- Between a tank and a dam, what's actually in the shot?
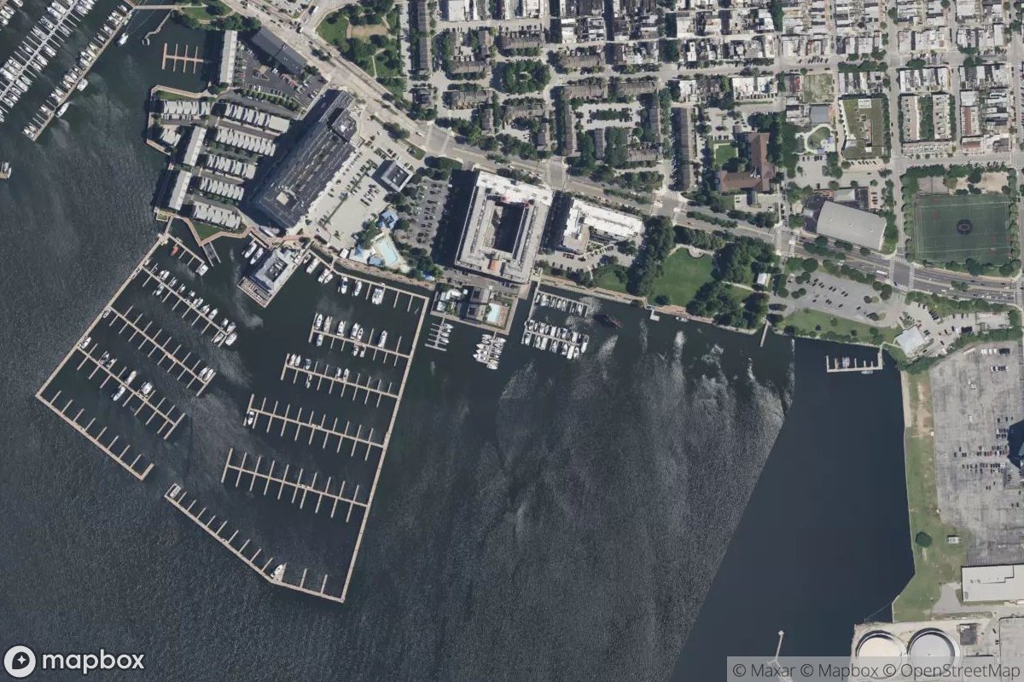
tank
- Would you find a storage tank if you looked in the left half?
No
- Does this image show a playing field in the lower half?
No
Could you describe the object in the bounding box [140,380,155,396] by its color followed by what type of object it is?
white boat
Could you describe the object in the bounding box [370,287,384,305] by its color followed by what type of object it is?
white boat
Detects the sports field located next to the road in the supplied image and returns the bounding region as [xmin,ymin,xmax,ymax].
[914,191,1011,263]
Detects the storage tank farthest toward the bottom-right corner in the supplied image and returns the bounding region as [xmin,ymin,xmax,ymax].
[907,632,956,680]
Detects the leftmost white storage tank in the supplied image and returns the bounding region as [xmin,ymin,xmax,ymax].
[858,633,905,679]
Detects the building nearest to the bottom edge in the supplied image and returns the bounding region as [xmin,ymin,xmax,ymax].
[960,625,976,646]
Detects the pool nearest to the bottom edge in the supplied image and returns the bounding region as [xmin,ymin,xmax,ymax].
[486,302,500,324]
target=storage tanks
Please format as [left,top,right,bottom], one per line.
[907,632,956,680]
[858,633,905,679]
